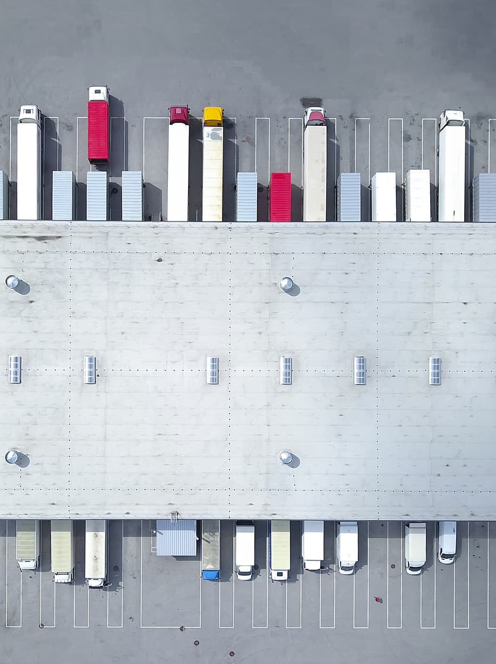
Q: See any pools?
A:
No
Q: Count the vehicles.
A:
16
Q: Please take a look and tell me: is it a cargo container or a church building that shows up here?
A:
cargo container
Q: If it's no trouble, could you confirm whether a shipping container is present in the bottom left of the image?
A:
No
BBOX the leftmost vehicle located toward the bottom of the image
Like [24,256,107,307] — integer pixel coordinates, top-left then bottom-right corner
[16,521,41,573]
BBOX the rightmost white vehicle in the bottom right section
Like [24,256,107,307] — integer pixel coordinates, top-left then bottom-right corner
[434,523,456,563]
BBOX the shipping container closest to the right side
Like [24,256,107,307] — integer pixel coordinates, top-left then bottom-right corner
[468,173,496,222]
